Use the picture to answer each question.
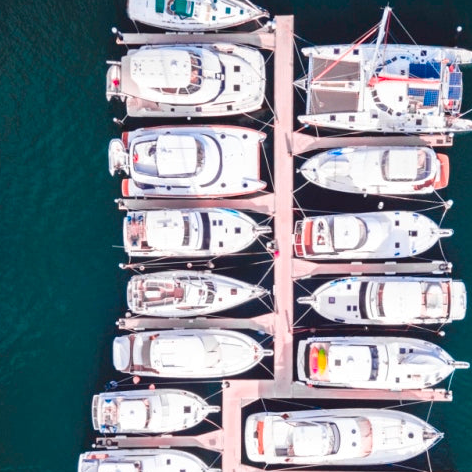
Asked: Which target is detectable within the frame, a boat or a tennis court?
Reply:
boat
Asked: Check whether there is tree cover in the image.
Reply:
No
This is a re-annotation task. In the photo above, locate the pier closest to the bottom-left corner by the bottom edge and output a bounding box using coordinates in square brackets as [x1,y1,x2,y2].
[95,429,223,453]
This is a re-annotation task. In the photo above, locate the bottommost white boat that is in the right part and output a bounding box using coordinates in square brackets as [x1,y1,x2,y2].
[245,398,447,472]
